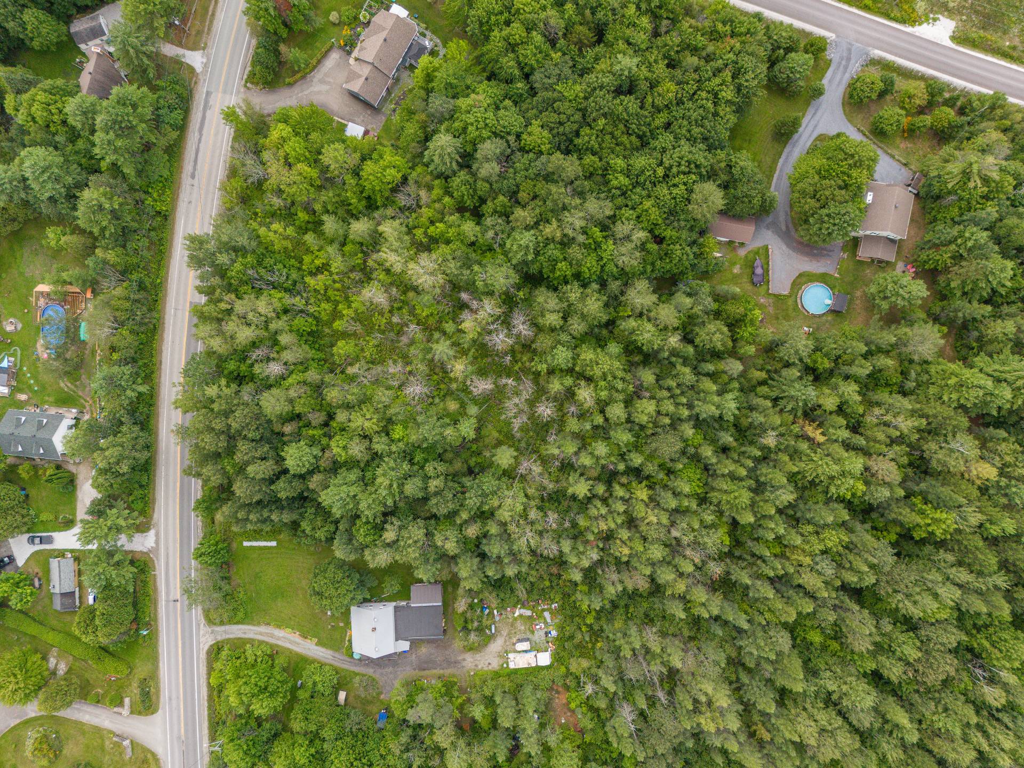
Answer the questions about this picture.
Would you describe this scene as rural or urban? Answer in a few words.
rural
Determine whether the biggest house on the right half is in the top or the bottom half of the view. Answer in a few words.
top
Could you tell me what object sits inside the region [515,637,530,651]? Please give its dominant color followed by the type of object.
white boat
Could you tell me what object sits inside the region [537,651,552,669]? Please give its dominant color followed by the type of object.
white vehicle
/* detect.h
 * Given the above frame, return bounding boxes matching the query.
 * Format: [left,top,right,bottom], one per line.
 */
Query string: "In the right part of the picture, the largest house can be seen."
[849,182,914,265]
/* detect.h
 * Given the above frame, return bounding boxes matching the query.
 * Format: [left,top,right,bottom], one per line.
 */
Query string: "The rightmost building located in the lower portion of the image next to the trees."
[351,580,444,663]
